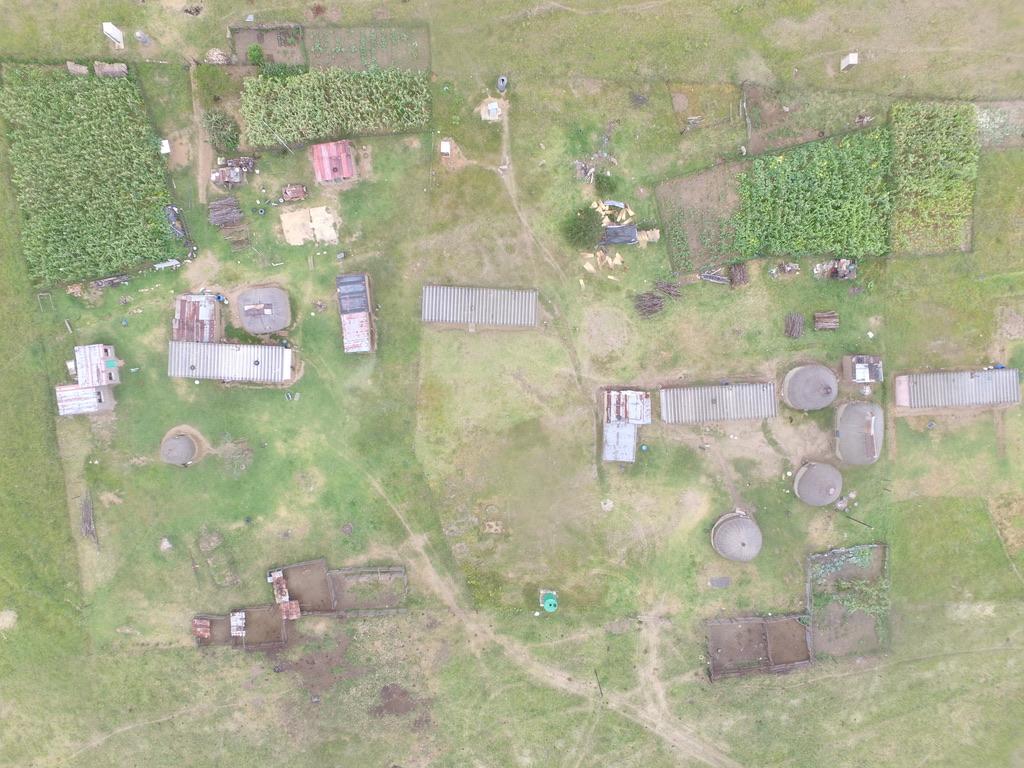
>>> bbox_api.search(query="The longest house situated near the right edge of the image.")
[894,369,1020,408]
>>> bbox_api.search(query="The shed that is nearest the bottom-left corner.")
[192,618,216,638]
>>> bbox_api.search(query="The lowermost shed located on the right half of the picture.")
[709,509,762,563]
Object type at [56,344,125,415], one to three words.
house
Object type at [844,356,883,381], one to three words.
shed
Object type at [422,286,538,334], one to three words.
house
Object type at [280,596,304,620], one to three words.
shed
